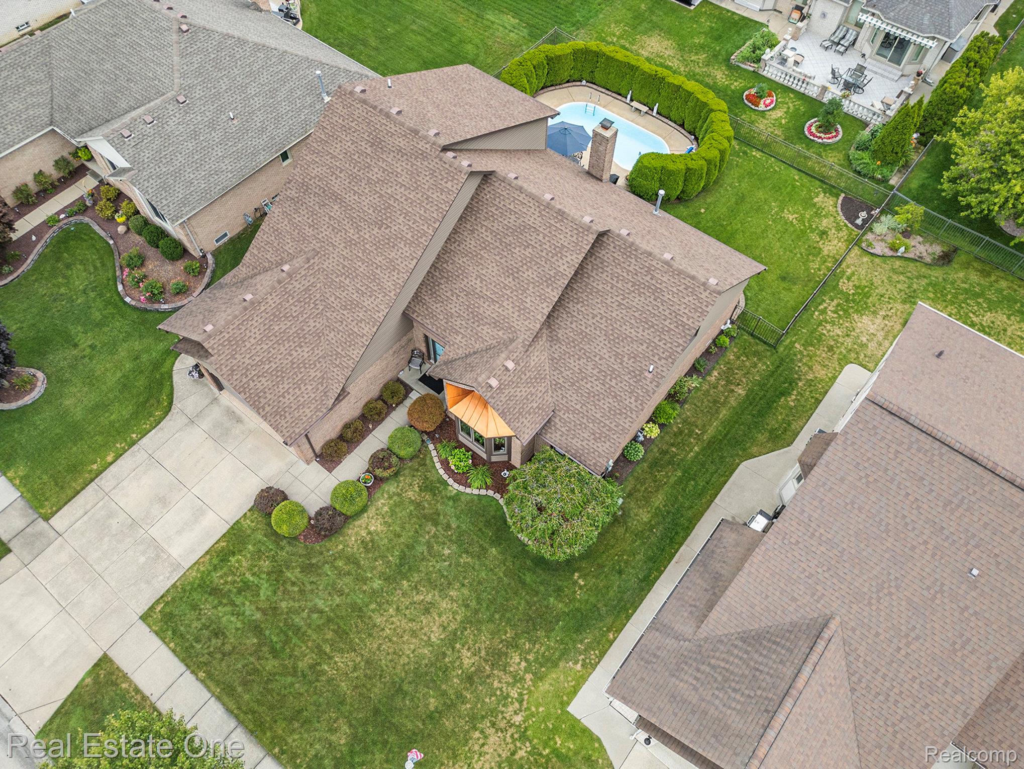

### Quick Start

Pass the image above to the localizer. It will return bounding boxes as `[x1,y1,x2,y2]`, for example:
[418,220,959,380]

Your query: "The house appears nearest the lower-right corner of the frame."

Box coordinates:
[600,299,1024,769]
